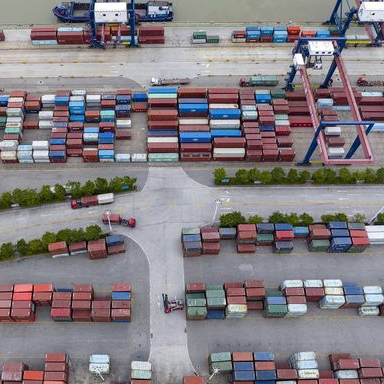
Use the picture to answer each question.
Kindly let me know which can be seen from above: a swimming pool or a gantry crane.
gantry crane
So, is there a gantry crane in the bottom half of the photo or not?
No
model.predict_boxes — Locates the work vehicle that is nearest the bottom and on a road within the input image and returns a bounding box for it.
[159,298,183,315]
